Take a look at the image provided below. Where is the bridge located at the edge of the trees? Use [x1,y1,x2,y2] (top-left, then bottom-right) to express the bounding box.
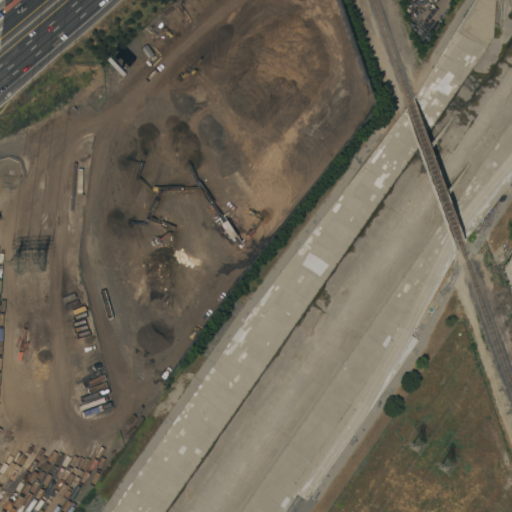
[404,103,471,254]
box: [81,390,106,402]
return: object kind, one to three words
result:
vehicle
